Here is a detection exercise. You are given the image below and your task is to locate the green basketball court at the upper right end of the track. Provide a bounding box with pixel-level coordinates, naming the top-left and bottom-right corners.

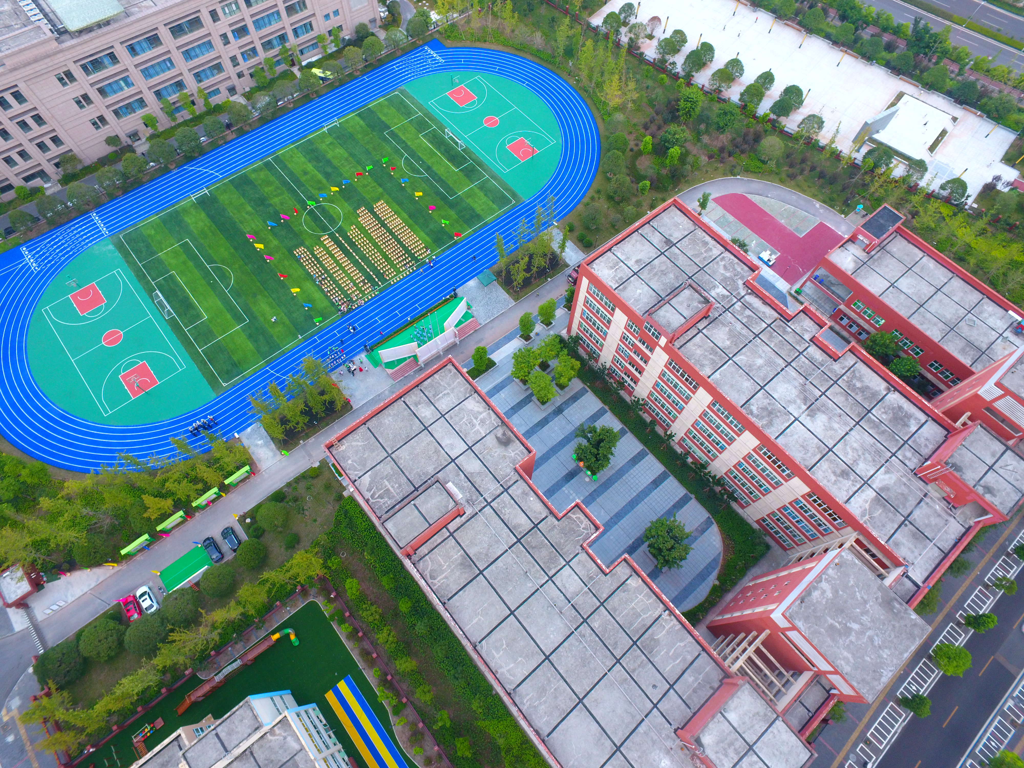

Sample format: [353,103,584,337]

[402,72,562,201]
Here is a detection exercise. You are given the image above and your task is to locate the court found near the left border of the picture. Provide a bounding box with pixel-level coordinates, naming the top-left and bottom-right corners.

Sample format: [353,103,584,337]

[28,237,216,423]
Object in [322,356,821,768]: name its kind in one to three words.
building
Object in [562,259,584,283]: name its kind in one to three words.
truck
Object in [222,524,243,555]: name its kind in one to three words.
car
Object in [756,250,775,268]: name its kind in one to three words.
vehicle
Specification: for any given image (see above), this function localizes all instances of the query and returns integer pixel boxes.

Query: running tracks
[0,39,600,471]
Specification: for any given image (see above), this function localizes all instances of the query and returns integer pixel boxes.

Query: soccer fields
[107,86,526,396]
